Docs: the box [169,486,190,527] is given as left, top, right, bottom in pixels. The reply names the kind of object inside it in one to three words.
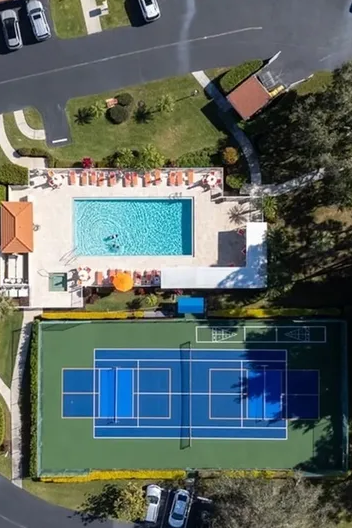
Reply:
car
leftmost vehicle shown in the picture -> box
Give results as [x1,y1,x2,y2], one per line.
[2,10,23,51]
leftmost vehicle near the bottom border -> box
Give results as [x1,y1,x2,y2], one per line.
[143,481,162,525]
